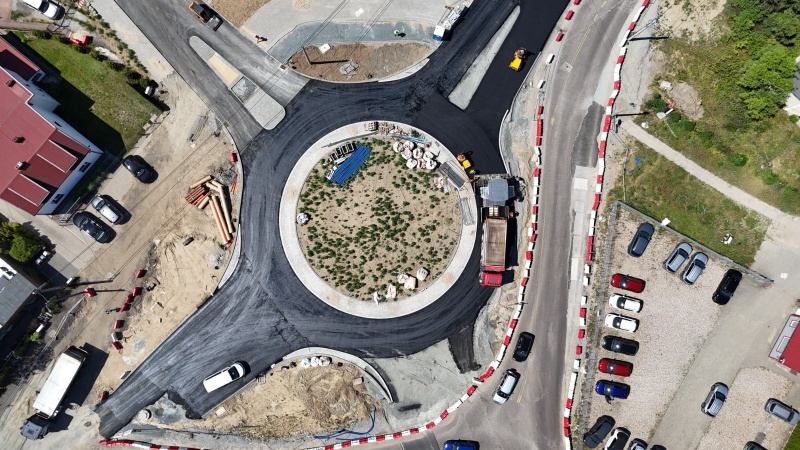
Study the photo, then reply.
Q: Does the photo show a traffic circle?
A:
Yes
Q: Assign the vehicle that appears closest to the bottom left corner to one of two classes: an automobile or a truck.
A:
truck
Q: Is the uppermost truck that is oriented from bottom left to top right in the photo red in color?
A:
No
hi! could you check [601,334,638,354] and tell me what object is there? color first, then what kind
black car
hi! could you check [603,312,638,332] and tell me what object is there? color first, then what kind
white car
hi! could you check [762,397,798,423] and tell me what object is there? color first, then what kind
gray car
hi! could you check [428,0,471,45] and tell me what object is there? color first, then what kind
white truck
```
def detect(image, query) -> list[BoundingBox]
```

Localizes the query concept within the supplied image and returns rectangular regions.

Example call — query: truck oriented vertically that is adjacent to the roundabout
[480,212,508,292]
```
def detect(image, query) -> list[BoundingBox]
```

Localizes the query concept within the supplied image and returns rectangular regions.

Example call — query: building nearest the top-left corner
[0,62,102,216]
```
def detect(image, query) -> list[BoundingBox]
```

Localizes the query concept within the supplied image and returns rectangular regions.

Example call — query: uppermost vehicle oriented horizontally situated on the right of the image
[609,273,645,292]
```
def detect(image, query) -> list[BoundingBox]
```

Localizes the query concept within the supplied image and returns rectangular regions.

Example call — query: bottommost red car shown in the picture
[597,357,632,376]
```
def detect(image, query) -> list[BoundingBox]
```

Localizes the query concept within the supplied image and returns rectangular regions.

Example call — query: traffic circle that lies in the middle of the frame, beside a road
[279,120,477,319]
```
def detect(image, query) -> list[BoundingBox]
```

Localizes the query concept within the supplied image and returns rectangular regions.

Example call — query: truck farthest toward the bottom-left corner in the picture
[21,348,92,439]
